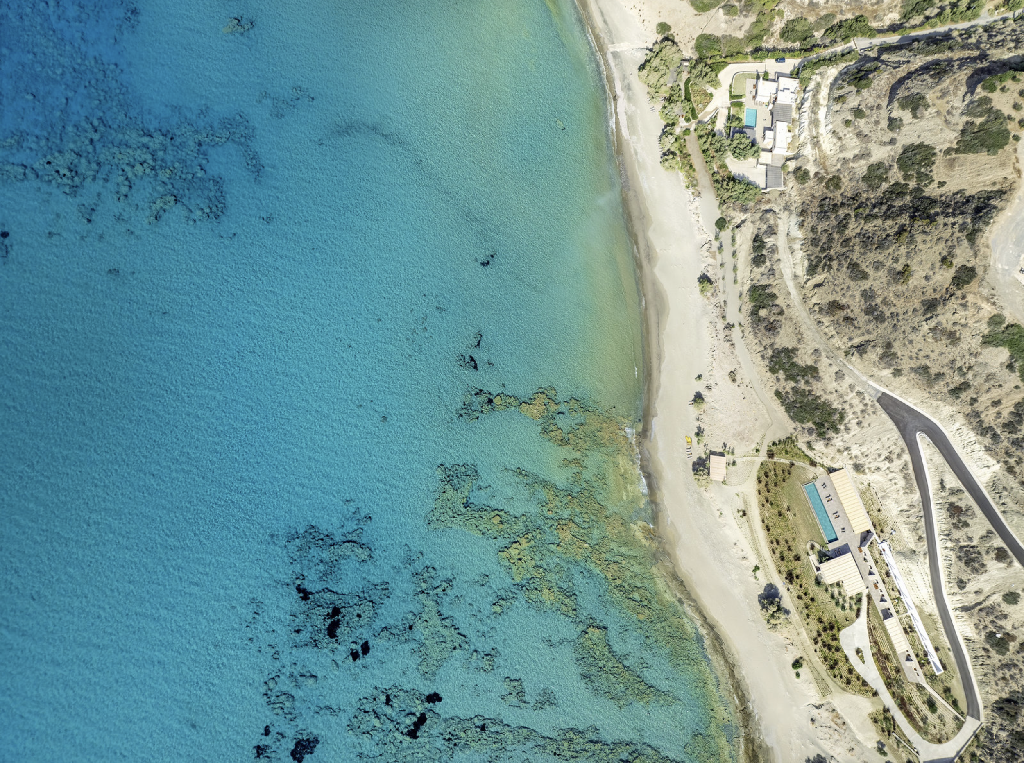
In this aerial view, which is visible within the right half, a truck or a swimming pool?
swimming pool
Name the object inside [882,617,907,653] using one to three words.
building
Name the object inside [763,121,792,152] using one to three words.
house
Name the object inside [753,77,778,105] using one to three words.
house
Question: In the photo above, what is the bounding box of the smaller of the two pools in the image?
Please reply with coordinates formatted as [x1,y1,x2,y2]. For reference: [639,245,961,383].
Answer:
[745,107,758,128]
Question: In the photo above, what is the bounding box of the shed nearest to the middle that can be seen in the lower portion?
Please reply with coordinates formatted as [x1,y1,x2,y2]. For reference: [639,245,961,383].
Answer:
[708,455,726,481]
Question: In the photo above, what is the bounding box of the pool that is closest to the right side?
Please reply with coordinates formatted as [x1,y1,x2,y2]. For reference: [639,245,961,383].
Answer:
[802,481,840,544]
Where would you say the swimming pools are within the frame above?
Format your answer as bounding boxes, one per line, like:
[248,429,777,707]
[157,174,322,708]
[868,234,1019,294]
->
[802,481,840,544]
[745,107,758,128]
